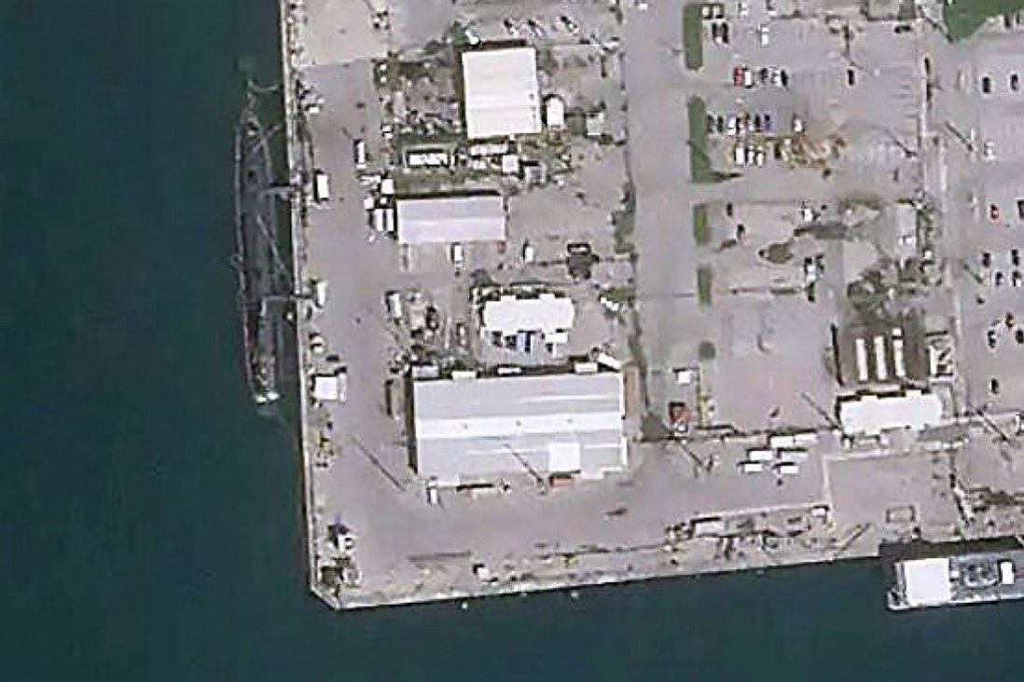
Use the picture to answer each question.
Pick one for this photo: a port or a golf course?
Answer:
port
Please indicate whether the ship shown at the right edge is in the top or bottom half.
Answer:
bottom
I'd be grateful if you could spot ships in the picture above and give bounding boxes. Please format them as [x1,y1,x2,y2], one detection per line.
[888,550,1024,611]
[237,90,281,403]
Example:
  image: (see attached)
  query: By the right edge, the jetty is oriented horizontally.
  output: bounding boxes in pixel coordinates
[880,535,1024,578]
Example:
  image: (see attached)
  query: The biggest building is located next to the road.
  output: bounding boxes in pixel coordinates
[413,372,627,476]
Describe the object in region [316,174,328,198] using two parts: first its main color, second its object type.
white vehicle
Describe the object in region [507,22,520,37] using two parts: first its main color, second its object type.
white vehicle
